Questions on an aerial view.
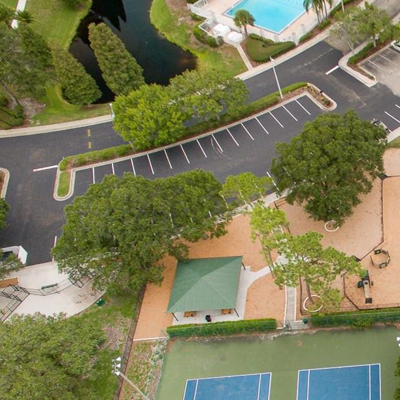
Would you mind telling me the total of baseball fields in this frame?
0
